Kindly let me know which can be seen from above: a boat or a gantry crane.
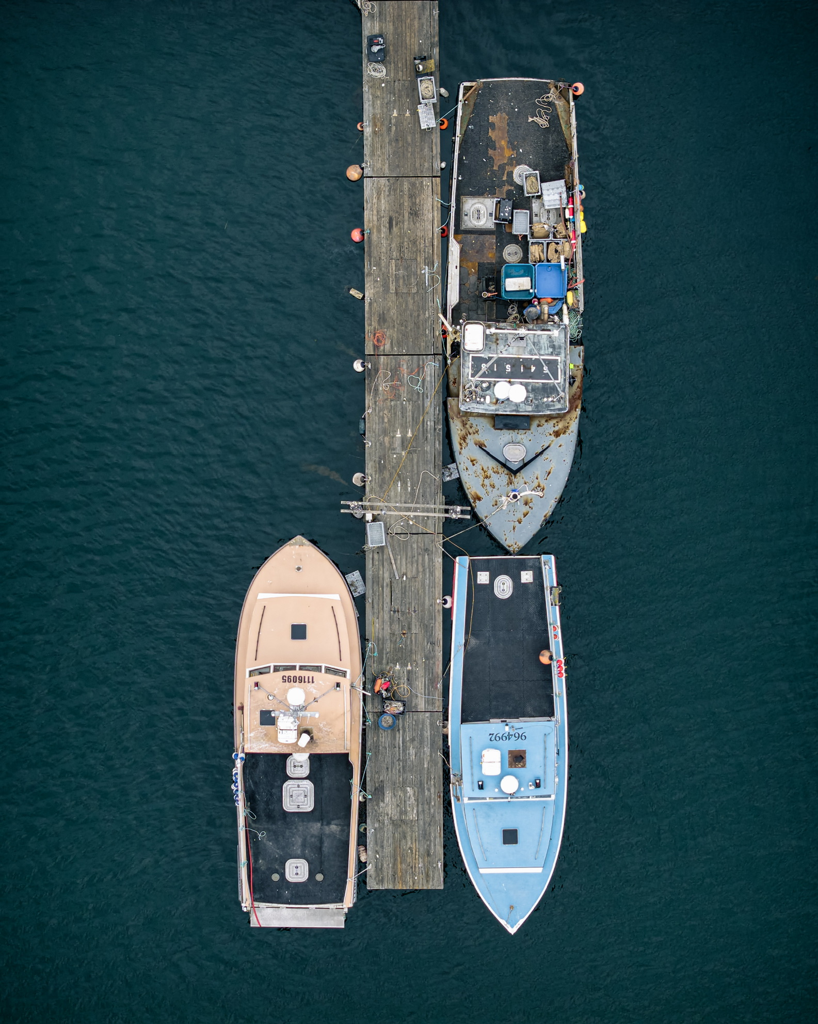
boat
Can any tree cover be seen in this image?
No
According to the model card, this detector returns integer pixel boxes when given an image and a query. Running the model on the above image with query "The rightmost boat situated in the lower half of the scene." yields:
[449,555,569,934]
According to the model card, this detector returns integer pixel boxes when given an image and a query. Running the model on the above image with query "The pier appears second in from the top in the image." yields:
[364,178,441,356]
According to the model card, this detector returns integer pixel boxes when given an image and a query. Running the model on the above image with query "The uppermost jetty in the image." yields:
[362,0,440,178]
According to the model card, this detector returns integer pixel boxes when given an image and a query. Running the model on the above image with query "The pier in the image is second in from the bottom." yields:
[366,534,443,711]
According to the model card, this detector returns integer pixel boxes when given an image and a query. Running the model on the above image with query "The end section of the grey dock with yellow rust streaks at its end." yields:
[366,711,443,889]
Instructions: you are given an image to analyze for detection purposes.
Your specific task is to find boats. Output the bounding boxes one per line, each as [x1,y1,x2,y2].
[438,78,584,556]
[233,535,370,928]
[449,555,569,934]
